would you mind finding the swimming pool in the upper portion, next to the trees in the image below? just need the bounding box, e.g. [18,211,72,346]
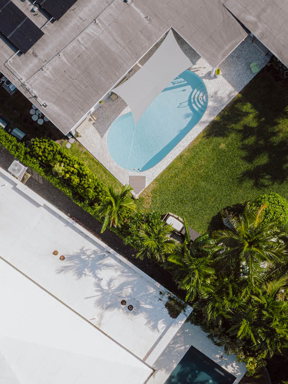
[104,67,210,176]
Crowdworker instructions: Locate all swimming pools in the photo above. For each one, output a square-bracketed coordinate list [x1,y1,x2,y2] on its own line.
[164,347,237,384]
[104,67,210,176]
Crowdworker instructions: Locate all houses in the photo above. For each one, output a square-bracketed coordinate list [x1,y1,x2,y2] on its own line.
[0,0,288,140]
[0,168,192,384]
